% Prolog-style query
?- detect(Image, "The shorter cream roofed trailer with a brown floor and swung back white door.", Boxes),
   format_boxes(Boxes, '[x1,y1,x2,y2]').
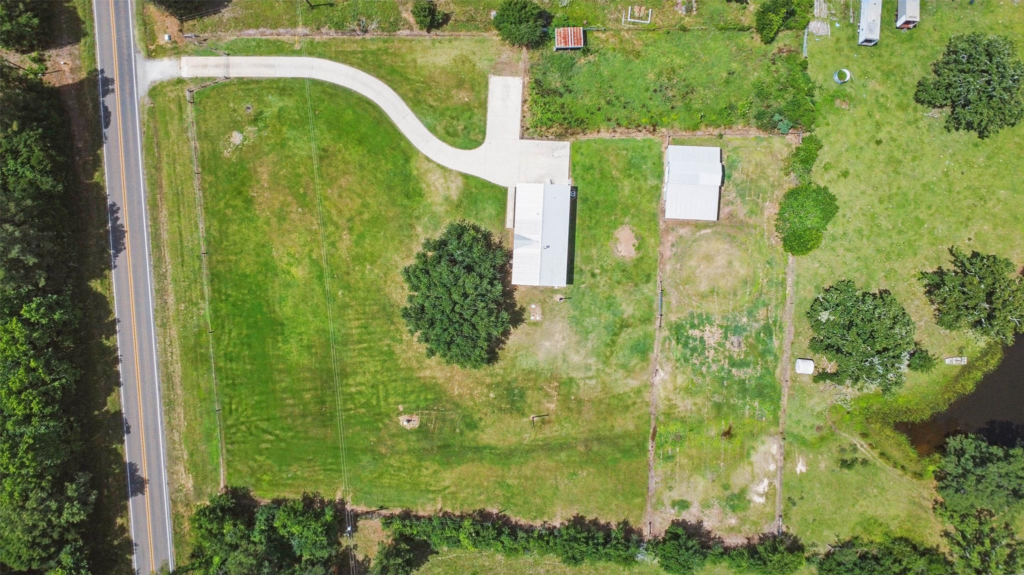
[894,0,920,28]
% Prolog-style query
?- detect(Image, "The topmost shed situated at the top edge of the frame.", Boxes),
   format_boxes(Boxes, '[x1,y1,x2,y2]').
[555,28,583,52]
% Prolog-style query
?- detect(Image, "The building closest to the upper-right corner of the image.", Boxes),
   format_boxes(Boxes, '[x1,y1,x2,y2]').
[661,145,723,221]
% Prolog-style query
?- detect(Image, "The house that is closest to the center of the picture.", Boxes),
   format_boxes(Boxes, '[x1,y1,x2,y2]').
[512,183,571,286]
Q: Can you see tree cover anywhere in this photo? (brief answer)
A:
Yes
